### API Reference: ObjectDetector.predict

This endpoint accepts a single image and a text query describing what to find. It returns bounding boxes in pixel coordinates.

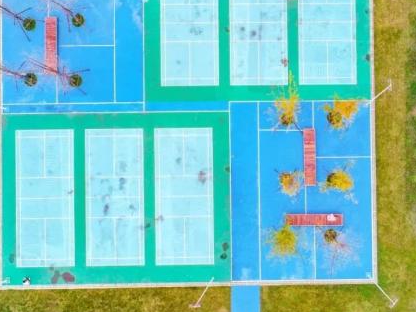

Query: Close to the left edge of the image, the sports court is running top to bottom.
[15,130,74,267]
